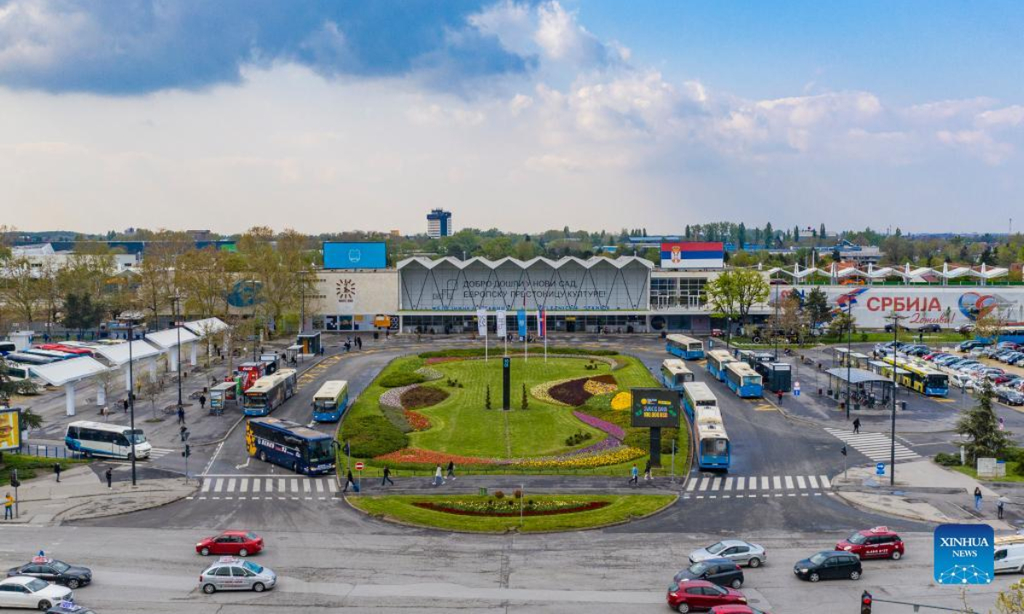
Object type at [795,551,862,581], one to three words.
car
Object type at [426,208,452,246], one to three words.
building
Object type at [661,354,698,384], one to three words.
bus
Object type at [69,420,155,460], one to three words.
vehicle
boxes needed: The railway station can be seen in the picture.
[165,254,777,334]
